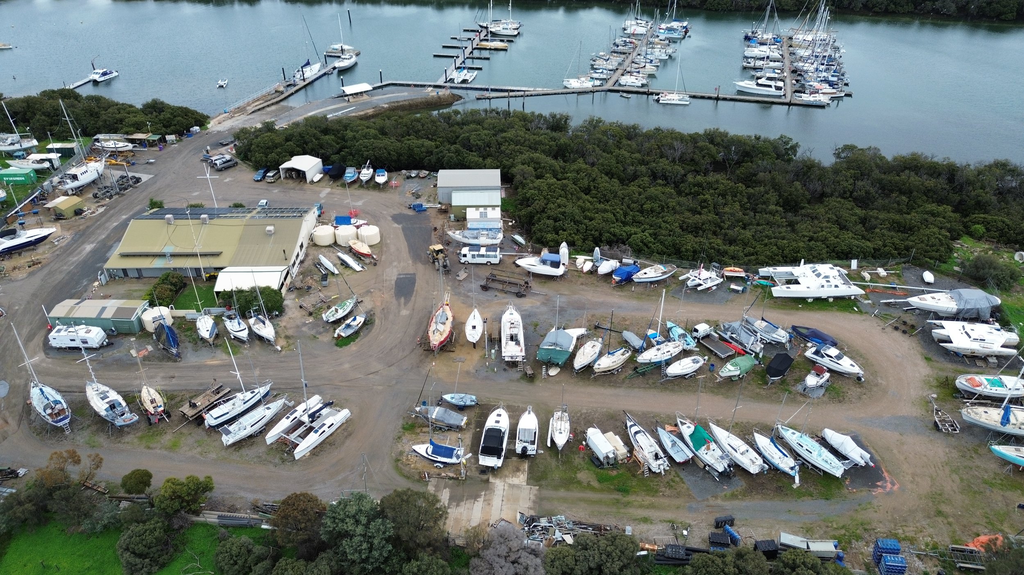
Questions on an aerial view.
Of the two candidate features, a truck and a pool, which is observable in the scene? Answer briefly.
truck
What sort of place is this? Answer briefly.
port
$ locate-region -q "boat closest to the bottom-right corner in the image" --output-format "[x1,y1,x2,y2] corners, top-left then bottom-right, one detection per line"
[992,440,1024,472]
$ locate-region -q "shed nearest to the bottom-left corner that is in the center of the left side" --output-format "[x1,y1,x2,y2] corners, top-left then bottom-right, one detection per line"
[46,297,151,333]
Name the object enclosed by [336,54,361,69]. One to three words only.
boat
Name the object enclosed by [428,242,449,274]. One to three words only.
work vehicle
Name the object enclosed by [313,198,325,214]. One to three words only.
vehicle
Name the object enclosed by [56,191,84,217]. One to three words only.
shed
